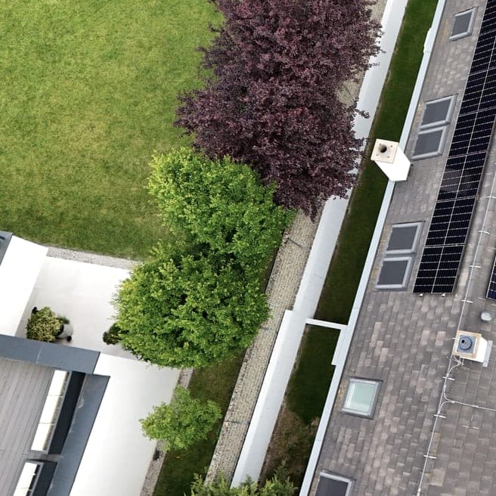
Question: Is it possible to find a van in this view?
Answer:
No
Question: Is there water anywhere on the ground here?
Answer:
No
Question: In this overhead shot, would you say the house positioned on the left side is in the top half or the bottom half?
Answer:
bottom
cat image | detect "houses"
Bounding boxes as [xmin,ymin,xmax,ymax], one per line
[0,332,181,496]
[301,0,496,496]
